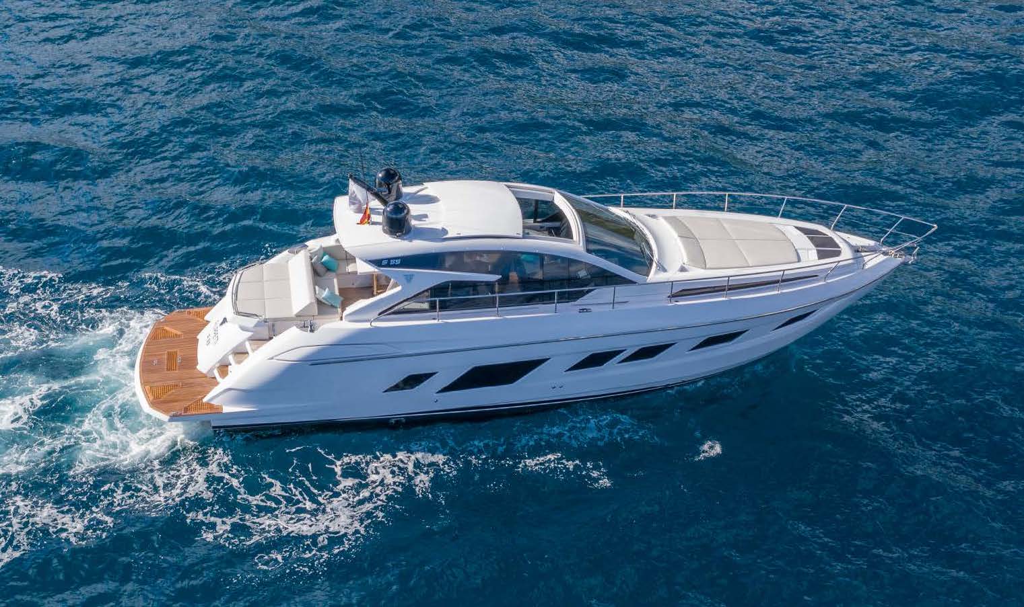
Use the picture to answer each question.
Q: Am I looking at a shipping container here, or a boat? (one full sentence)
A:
Visible in the photo is a boat.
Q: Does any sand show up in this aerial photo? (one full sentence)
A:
No, there is no sand in the image.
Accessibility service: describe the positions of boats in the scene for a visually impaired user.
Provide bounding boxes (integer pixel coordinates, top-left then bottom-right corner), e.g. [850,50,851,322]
[135,118,940,428]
